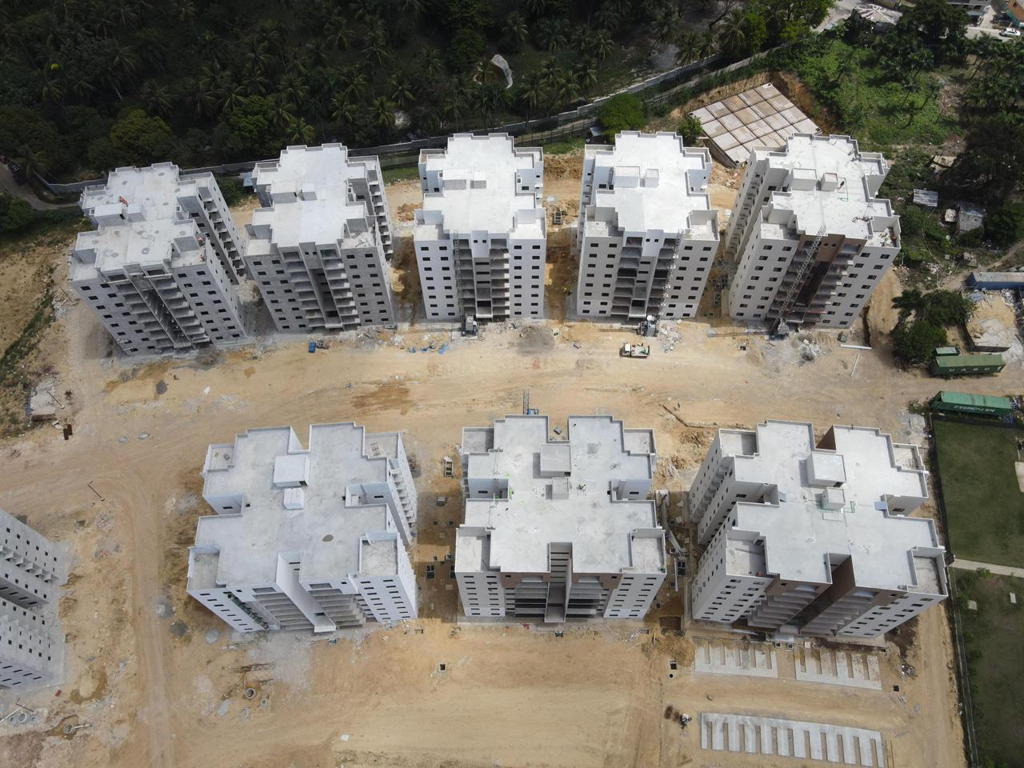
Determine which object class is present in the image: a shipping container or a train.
shipping container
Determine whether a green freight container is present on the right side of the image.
Yes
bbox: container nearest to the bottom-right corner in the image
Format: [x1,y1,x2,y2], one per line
[935,390,1011,416]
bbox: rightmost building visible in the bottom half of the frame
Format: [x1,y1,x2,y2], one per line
[684,421,951,654]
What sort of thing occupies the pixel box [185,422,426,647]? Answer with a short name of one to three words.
building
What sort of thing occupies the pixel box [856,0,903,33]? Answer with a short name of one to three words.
building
